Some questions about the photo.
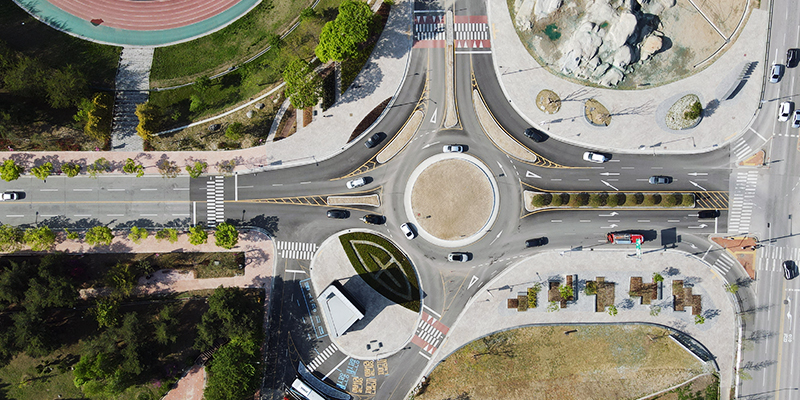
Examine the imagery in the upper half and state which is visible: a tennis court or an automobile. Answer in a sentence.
What appears in the upper half is an automobile.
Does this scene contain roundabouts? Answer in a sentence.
Yes, there is a roundabout in the image.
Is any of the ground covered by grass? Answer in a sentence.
Yes, grass shows up in the scene.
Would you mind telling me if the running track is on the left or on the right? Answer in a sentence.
The running track is on the left side of the image.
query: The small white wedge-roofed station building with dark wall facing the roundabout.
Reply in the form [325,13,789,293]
[317,280,366,337]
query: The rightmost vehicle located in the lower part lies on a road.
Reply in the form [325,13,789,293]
[781,259,797,281]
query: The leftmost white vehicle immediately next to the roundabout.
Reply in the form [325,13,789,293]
[344,176,366,190]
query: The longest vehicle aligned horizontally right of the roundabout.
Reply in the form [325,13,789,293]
[606,233,647,247]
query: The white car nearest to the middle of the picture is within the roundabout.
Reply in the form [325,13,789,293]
[399,220,416,241]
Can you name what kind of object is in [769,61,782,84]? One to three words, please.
vehicle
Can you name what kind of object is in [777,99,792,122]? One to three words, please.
car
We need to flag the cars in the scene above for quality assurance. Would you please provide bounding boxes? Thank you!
[446,252,467,262]
[441,143,463,154]
[695,209,720,220]
[521,125,545,142]
[647,175,672,186]
[784,46,800,70]
[362,130,384,149]
[781,259,797,281]
[399,220,416,241]
[769,61,782,84]
[791,108,800,130]
[777,99,792,122]
[0,191,20,202]
[362,213,386,224]
[582,151,605,162]
[326,209,350,220]
[344,176,366,190]
[523,236,548,248]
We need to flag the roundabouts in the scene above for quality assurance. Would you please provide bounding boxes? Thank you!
[362,86,563,316]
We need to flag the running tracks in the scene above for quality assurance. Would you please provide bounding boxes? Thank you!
[12,0,262,48]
